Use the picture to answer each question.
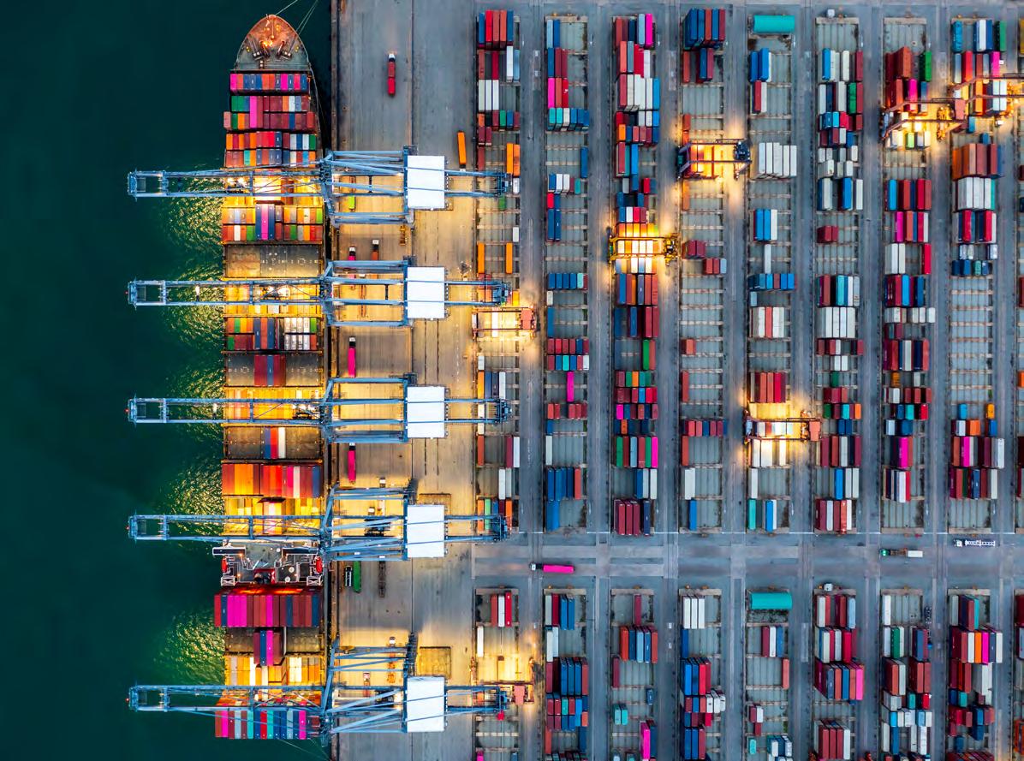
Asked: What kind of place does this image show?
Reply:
port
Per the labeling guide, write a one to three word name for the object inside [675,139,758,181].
crane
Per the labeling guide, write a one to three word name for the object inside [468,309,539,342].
crane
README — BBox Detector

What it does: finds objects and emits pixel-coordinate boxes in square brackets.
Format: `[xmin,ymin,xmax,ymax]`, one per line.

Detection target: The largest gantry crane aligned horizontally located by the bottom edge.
[124,628,508,736]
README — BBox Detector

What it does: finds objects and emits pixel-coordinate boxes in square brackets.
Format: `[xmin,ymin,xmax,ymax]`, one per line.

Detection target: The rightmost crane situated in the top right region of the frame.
[946,74,1024,120]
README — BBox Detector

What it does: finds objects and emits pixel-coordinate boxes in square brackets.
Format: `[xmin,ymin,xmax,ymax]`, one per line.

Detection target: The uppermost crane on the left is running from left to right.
[124,144,510,239]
